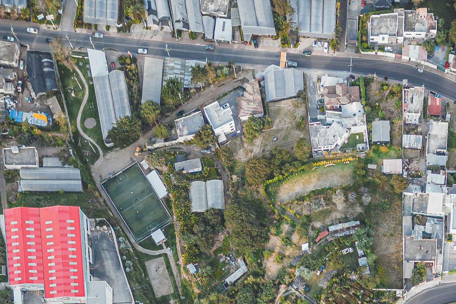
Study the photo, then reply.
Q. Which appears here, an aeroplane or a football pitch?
football pitch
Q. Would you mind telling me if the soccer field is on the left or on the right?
left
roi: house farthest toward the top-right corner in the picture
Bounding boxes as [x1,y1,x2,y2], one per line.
[403,8,437,41]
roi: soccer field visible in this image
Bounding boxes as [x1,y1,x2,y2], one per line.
[99,162,170,240]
